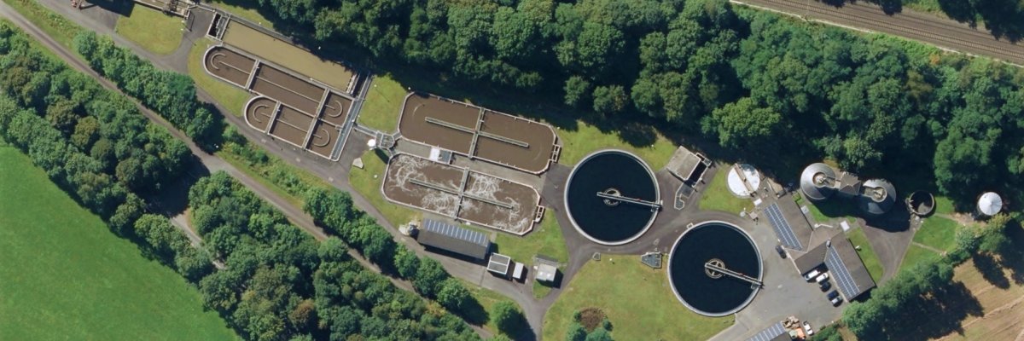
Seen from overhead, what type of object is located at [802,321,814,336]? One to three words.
vehicle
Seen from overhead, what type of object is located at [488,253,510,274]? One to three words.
shed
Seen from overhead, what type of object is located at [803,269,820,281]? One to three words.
vehicle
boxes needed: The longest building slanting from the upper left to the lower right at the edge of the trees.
[761,193,875,303]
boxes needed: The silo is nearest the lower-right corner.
[978,192,1002,216]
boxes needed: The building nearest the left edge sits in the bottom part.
[416,219,489,259]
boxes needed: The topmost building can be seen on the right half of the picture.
[667,145,701,180]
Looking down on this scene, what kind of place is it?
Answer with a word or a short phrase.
industrial area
